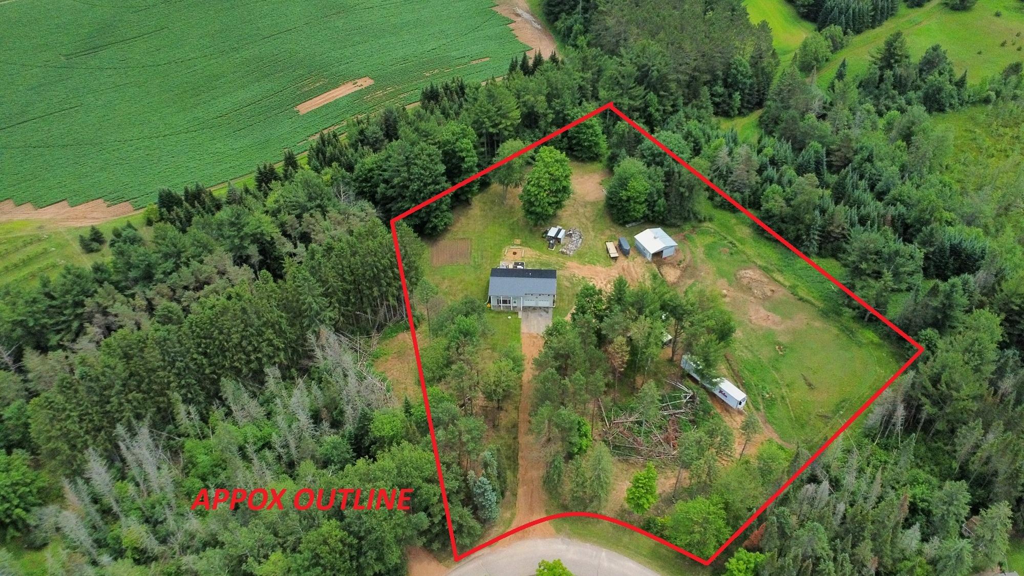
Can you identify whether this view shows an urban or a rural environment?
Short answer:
rural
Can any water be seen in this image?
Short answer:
No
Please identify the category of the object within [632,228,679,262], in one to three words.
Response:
barn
